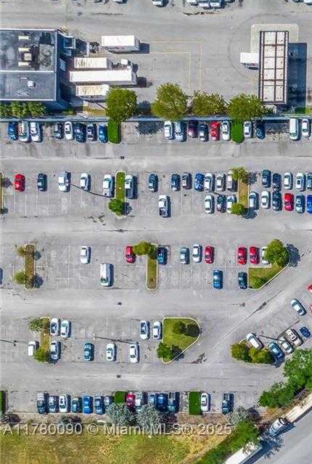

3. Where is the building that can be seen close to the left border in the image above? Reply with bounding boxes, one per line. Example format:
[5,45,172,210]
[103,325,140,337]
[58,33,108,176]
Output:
[0,28,84,112]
